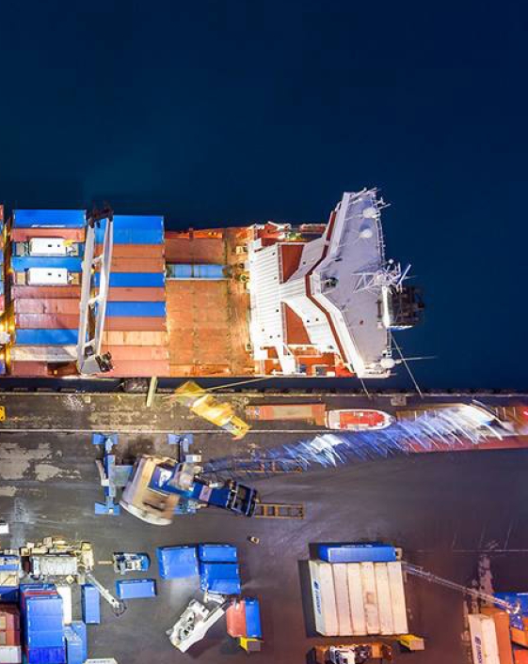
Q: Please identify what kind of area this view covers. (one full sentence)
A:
This image shows a port.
